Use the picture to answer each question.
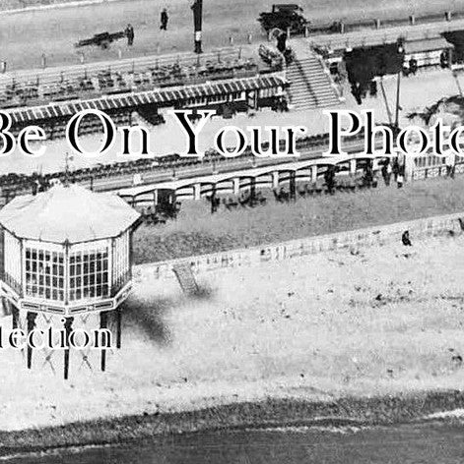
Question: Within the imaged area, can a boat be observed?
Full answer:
No, the photo shows no boat.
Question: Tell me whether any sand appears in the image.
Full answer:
Yes, sand can be seen from above here.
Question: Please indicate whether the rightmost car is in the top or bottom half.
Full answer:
The rightmost car sits in the top half of the picture.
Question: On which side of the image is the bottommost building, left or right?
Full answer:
The bottommost building appears in the left half of the scene.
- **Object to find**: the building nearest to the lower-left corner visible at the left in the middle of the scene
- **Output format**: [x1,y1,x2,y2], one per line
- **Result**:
[0,185,137,374]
